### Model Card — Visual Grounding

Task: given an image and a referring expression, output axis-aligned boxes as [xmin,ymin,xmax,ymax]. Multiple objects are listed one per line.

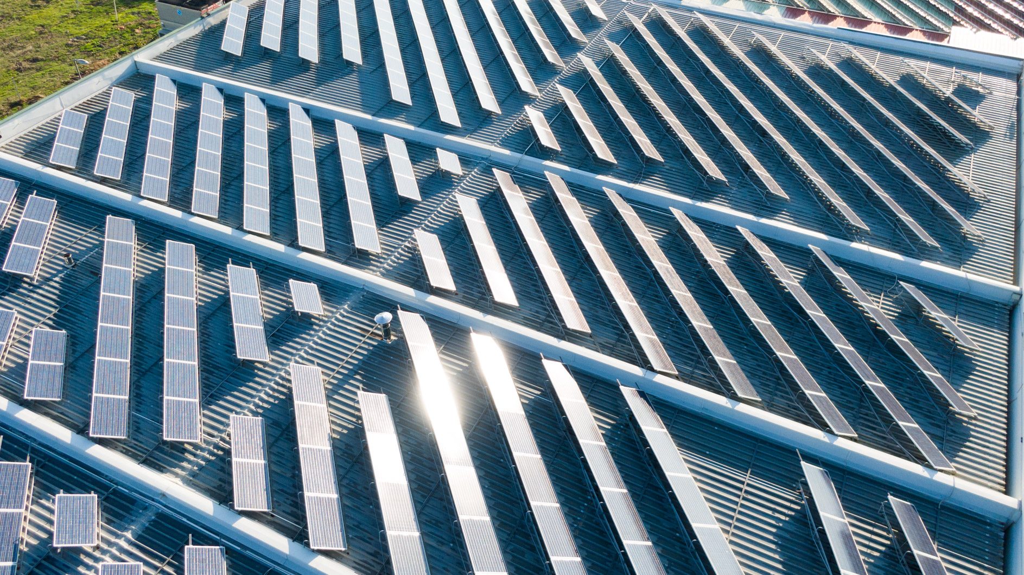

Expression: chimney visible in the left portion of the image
[373,310,405,346]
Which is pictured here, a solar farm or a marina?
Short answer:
solar farm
